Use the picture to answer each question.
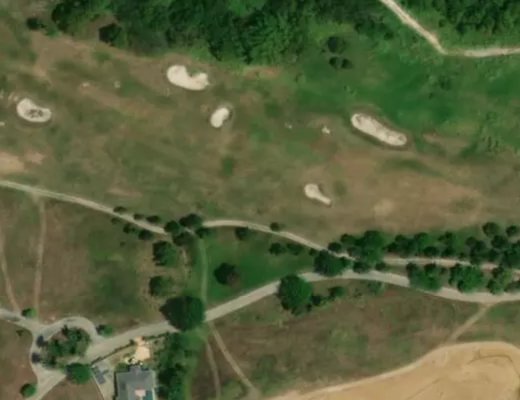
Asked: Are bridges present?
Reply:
No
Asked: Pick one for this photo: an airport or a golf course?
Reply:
golf course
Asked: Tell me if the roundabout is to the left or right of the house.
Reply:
on the left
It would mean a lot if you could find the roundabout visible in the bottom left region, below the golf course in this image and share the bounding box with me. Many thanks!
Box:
[25,317,113,400]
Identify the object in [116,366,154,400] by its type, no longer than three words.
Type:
house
